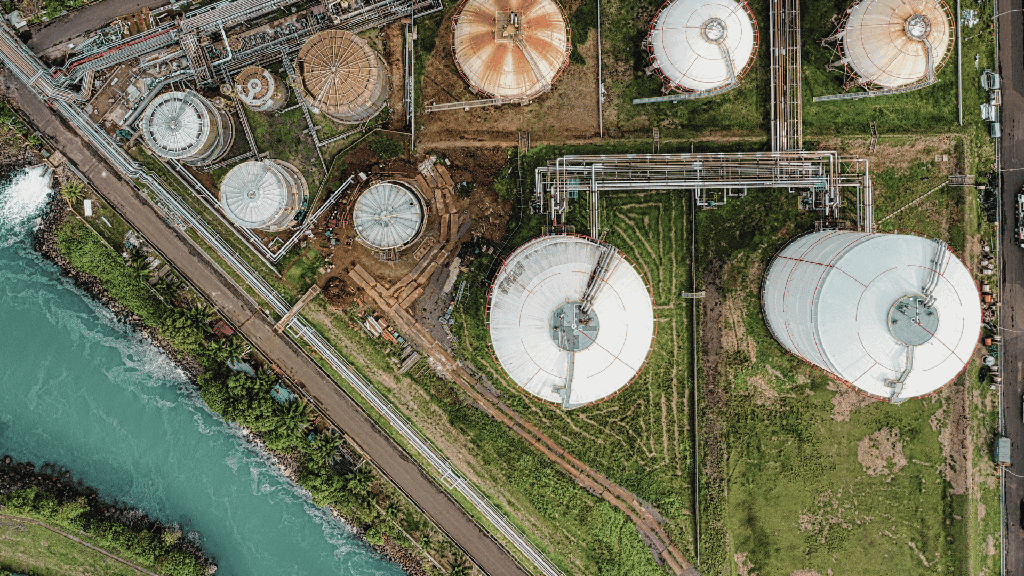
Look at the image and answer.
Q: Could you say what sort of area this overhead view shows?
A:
industrial area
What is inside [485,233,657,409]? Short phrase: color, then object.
white storage tank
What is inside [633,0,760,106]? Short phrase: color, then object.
white storage tank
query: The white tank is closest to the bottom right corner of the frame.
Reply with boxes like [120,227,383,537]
[761,227,981,403]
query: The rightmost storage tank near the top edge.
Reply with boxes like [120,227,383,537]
[814,0,958,103]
